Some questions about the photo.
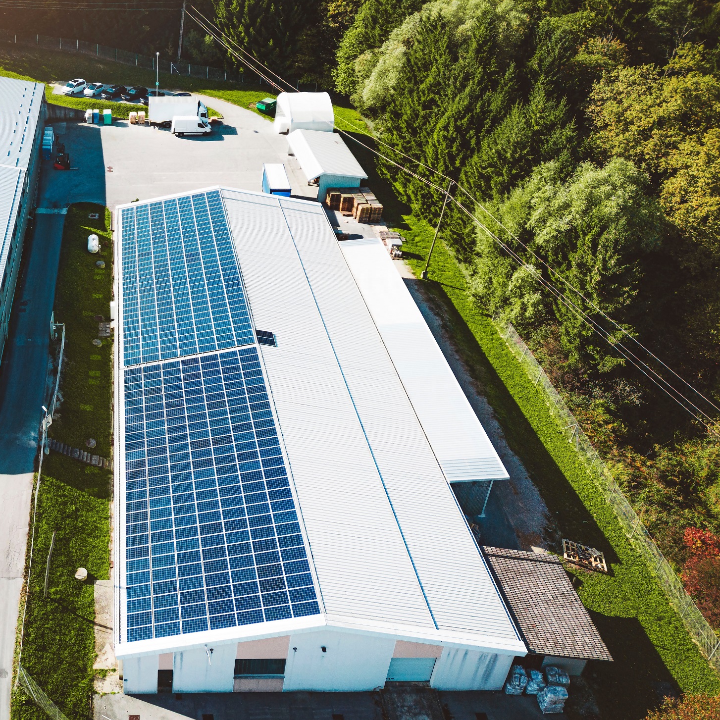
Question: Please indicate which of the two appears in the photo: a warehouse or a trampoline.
warehouse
